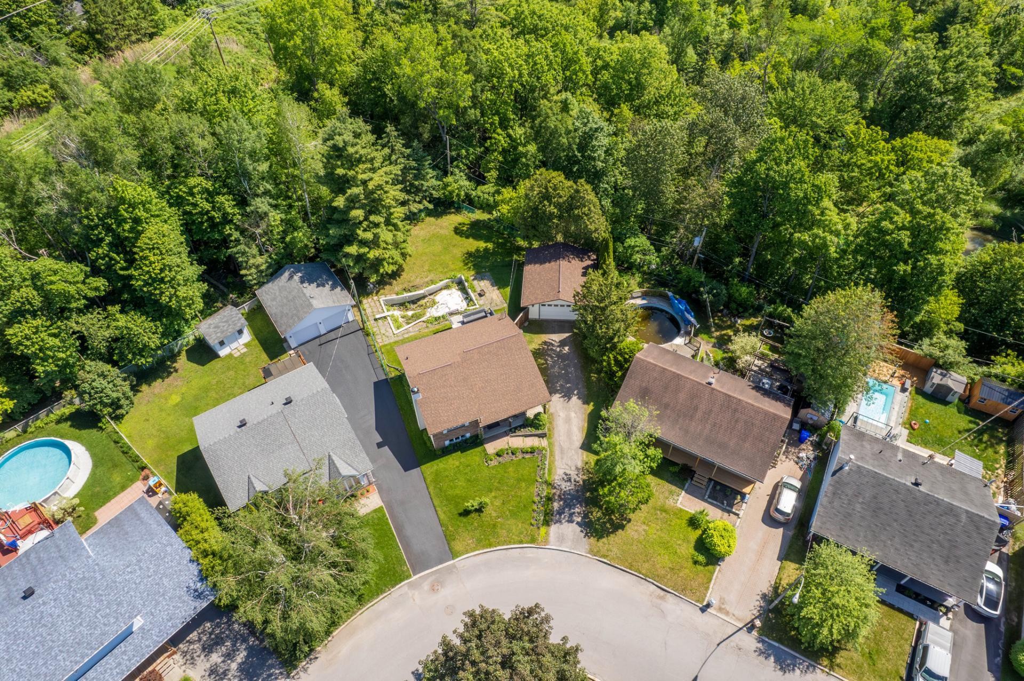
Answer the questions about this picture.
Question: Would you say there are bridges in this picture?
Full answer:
No, there's no bridge here.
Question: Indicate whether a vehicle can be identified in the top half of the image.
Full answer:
No, there's no vehicle to be seen in the top half of the image.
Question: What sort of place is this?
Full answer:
This image shows a residential area.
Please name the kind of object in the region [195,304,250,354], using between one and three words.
shed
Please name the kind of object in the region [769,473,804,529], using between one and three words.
car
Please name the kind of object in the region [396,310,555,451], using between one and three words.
house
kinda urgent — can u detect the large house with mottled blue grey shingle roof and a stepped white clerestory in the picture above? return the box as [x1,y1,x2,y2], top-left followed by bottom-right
[0,498,216,681]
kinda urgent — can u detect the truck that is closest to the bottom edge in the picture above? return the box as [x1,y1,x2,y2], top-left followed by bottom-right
[910,626,955,681]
